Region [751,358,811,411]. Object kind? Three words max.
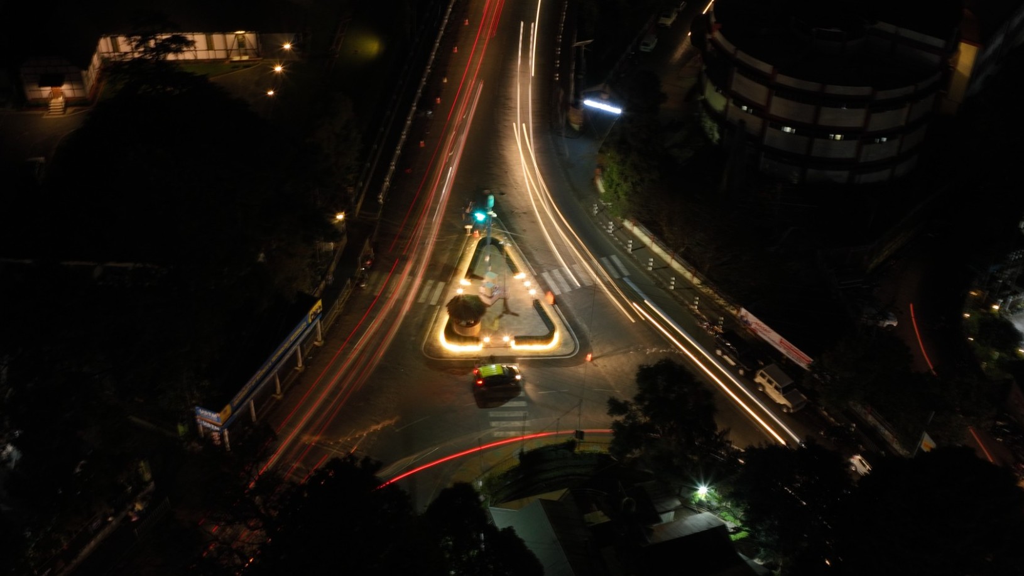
car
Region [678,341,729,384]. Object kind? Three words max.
car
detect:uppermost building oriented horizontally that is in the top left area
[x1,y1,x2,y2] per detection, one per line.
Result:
[102,5,314,62]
